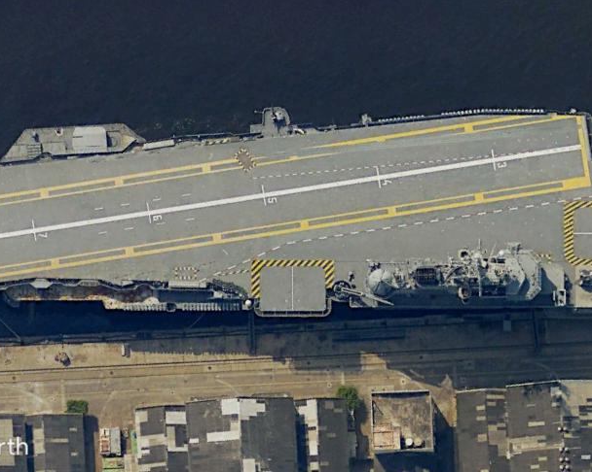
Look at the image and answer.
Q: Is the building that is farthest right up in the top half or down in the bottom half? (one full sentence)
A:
The building that is farthest right is in the bottom half of the image.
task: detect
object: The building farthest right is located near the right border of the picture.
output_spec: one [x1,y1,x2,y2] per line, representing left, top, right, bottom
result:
[507,380,592,472]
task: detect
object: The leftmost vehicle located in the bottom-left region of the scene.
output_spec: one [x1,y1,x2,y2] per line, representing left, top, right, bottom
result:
[54,352,69,365]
